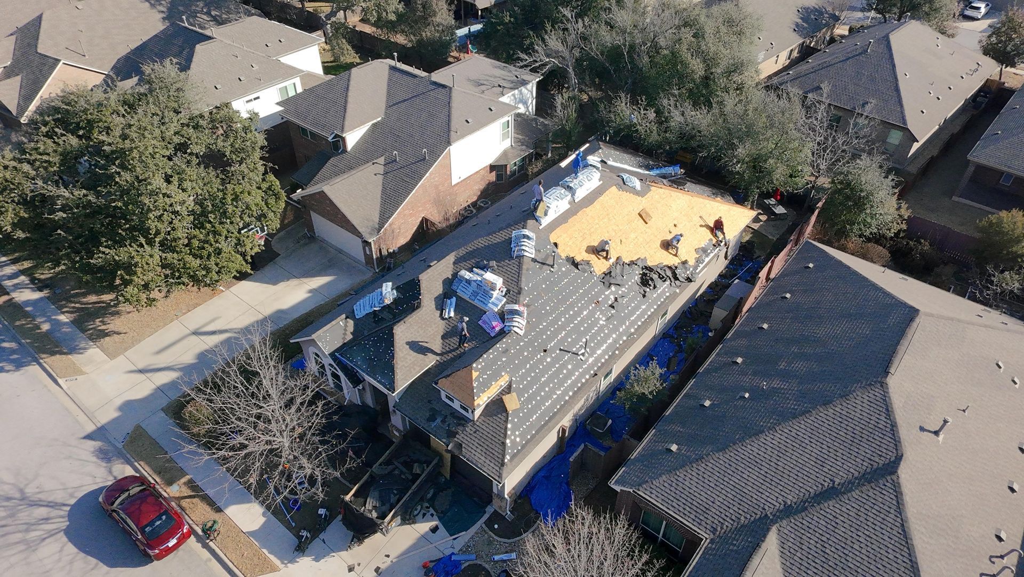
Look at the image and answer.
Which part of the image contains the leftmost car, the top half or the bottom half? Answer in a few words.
bottom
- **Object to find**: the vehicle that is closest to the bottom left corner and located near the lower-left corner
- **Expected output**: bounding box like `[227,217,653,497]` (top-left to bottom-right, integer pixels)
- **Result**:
[101,476,187,561]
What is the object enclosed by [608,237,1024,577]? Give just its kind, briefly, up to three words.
house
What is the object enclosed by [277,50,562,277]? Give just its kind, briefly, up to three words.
house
